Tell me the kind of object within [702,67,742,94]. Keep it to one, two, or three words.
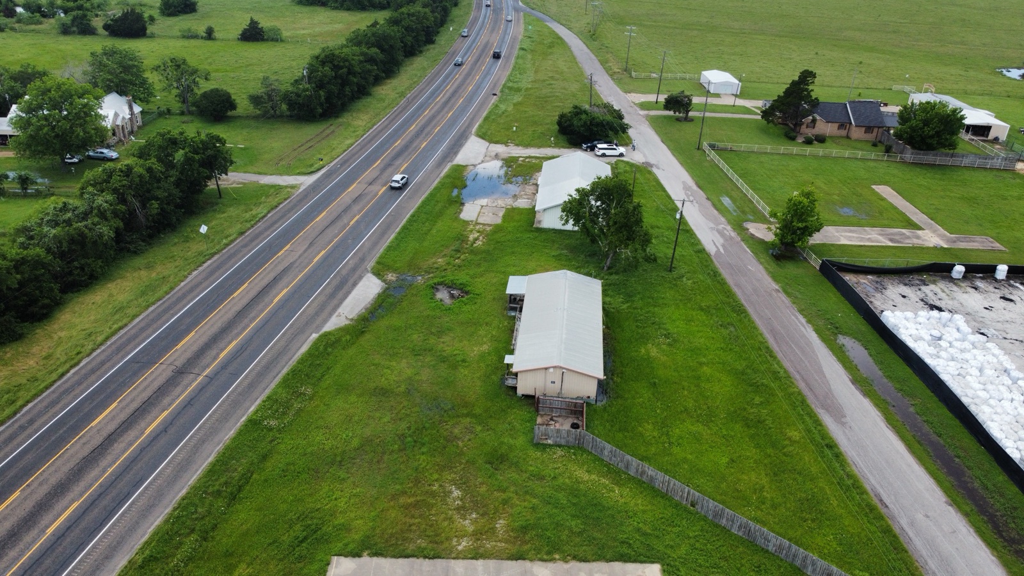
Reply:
building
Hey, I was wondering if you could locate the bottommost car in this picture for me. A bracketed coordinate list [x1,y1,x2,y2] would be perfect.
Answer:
[387,174,408,188]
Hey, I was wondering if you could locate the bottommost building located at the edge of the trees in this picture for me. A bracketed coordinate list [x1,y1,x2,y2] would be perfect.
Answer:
[503,270,605,402]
